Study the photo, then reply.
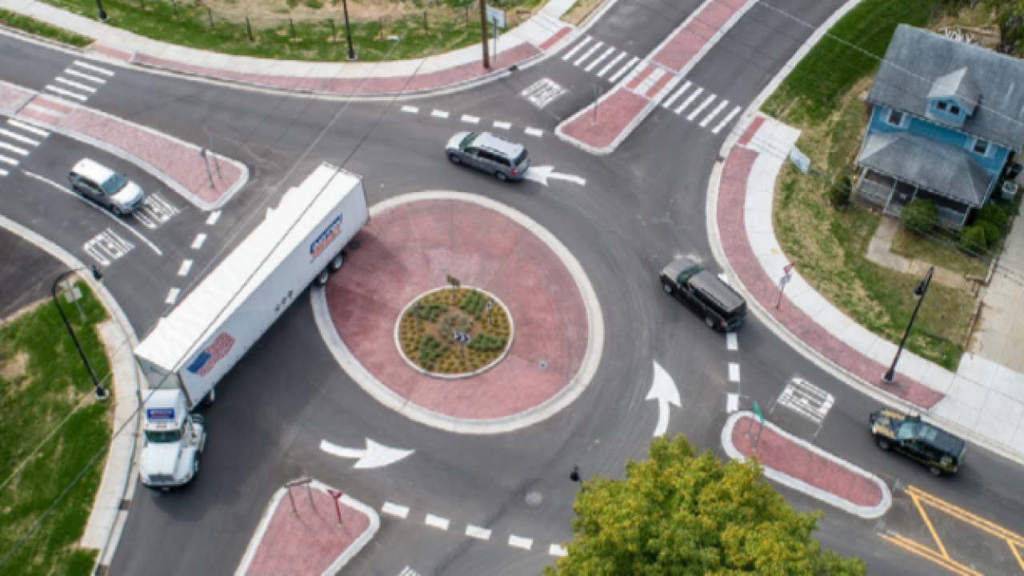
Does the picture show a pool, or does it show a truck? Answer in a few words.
truck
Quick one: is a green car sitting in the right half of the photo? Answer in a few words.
No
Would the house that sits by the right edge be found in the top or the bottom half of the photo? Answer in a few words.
top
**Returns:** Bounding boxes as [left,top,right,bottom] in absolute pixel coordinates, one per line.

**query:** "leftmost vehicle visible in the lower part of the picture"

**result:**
[131,377,214,490]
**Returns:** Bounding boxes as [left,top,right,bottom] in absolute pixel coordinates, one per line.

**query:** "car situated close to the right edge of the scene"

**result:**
[866,403,977,482]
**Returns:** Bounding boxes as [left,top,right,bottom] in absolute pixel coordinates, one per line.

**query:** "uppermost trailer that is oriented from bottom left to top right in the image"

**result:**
[132,161,370,403]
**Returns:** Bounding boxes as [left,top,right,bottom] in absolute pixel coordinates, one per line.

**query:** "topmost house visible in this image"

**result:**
[848,22,1024,242]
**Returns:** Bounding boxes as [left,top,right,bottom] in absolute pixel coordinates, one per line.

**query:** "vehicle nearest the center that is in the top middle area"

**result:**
[443,130,533,182]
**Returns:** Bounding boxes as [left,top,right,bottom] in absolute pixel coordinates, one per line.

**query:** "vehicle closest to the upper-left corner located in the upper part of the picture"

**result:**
[64,154,146,214]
